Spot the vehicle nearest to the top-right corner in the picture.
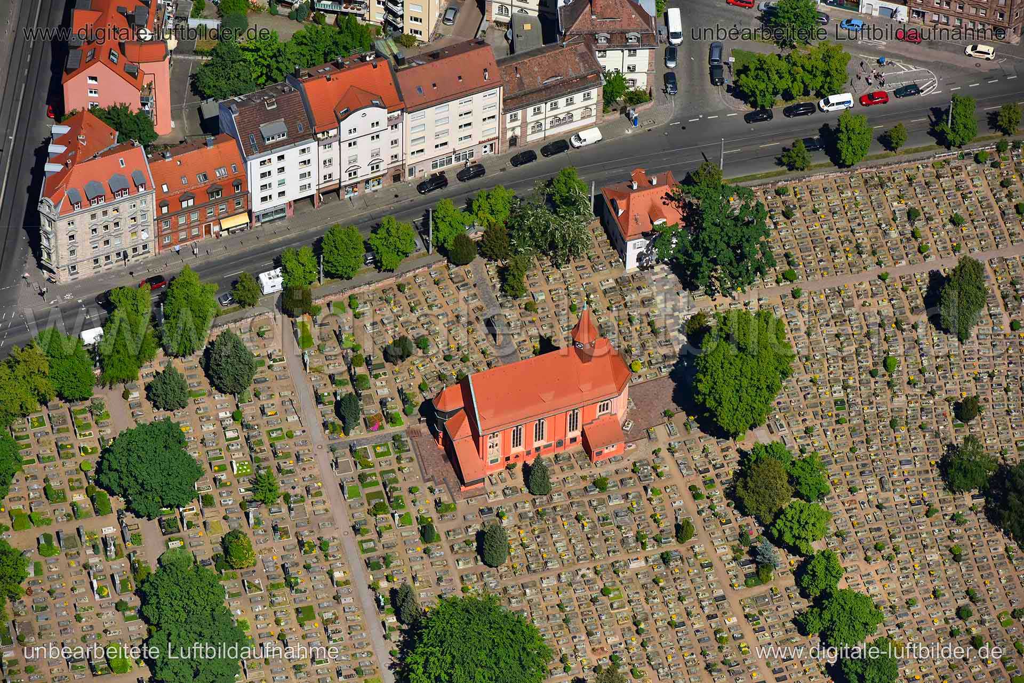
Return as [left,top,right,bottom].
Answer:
[965,44,995,61]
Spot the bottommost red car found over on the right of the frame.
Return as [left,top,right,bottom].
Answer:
[860,90,888,106]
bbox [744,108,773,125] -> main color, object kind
black car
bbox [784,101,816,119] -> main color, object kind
black car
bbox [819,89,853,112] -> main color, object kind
white vehicle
